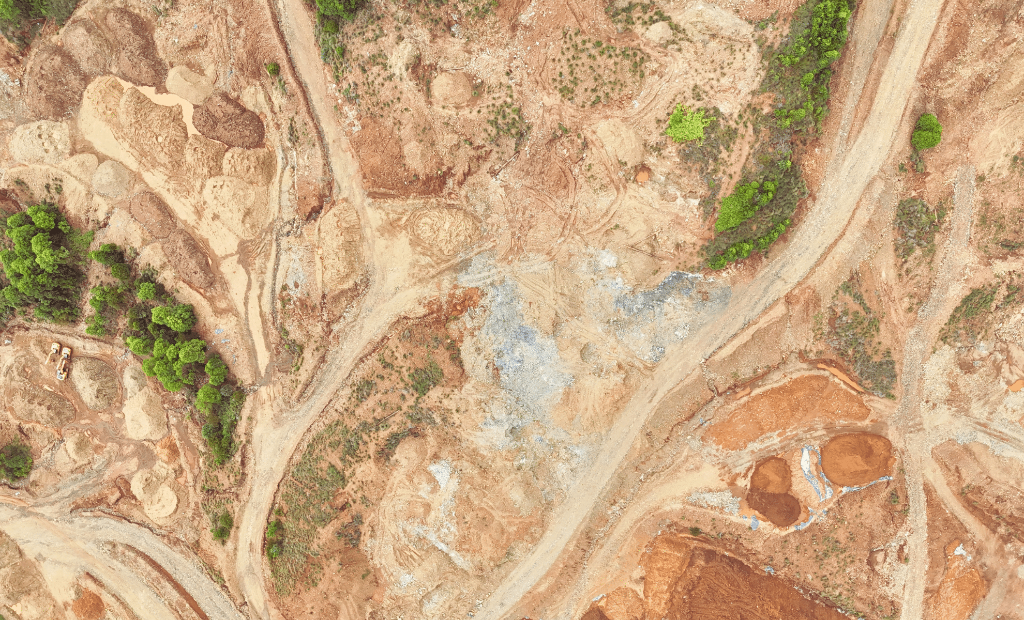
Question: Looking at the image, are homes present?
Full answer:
No, there appears to be no home in this shot.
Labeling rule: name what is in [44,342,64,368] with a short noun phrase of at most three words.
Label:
work vehicle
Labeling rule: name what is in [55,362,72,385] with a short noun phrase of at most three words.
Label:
work vehicle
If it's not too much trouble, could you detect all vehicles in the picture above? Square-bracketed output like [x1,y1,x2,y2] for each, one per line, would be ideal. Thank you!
[54,346,75,373]
[55,362,72,385]
[44,342,64,368]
